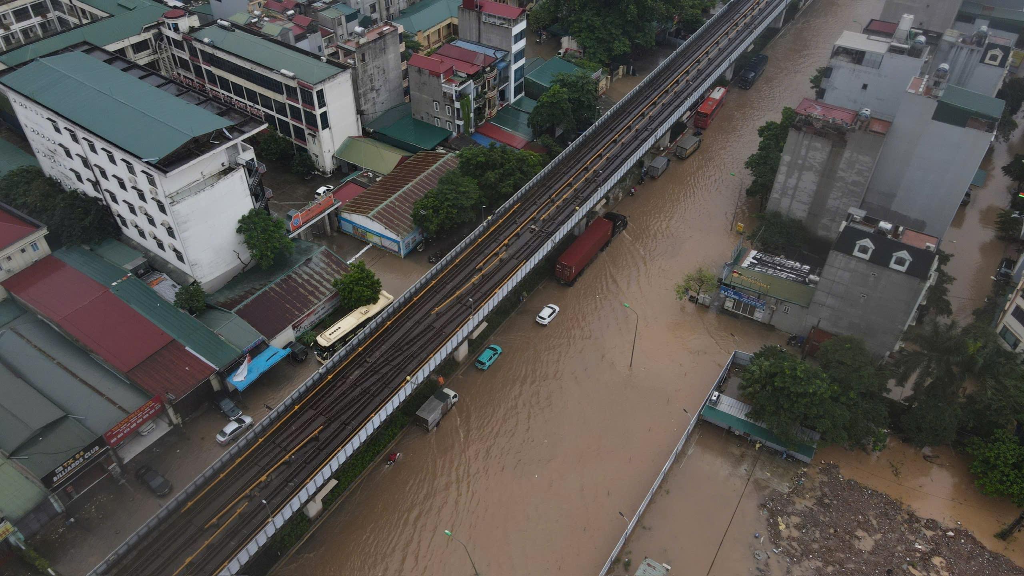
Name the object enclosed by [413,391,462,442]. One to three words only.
truck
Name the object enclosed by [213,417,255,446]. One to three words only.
car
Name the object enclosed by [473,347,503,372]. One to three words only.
car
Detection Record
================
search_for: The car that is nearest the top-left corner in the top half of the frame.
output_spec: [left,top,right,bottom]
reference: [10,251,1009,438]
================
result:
[312,186,338,201]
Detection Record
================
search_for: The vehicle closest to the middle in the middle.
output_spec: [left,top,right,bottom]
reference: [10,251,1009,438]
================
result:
[533,306,561,328]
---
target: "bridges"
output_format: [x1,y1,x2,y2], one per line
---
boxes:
[85,0,796,576]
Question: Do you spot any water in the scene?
Yes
